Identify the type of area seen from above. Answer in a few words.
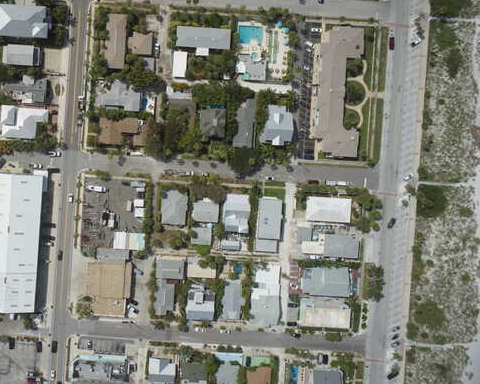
residential area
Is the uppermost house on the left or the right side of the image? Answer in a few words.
left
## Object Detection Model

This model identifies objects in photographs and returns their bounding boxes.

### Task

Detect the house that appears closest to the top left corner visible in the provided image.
[0,4,47,40]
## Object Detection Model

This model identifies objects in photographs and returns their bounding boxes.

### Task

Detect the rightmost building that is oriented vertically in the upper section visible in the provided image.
[308,25,365,159]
